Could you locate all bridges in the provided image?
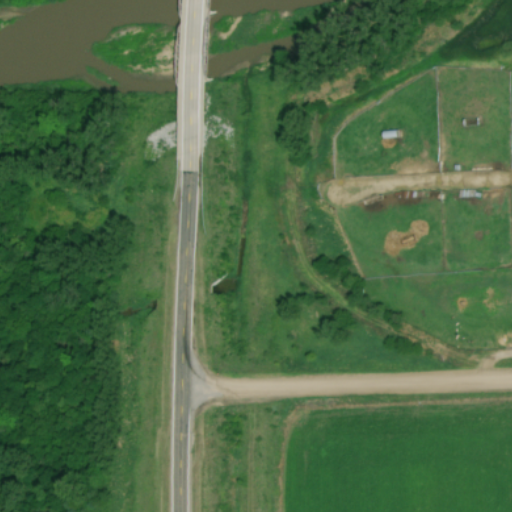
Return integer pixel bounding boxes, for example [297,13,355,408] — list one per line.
[176,0,215,172]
